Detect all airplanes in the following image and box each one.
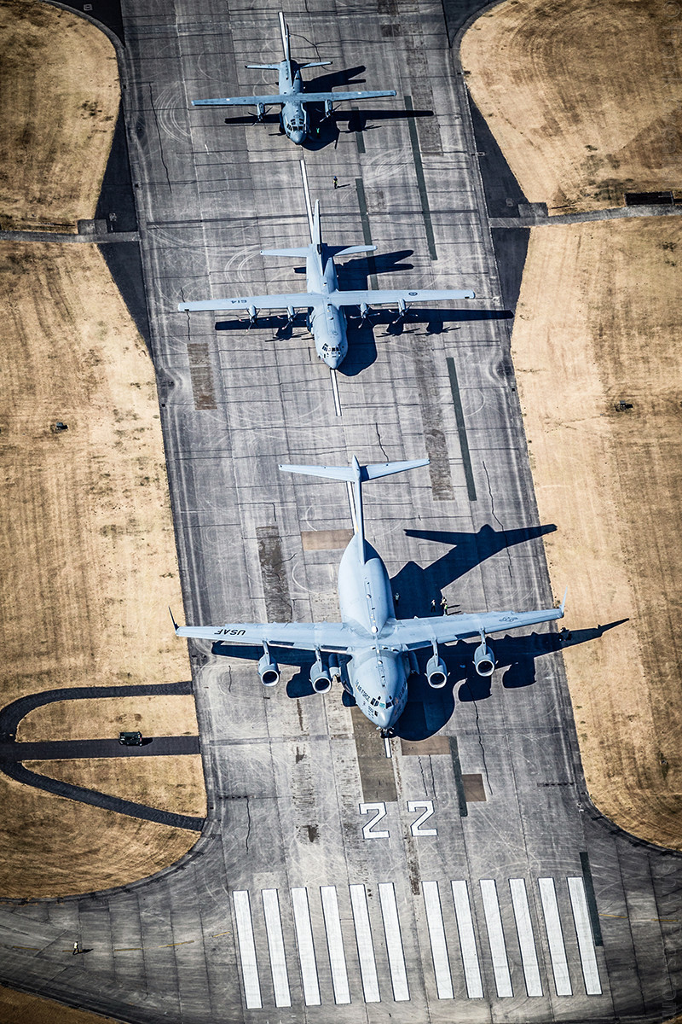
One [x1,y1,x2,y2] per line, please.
[191,21,397,147]
[167,453,569,737]
[177,197,475,373]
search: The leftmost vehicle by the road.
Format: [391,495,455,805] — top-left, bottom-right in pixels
[116,728,143,745]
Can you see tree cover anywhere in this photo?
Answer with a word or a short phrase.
No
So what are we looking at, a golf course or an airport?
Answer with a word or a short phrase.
airport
